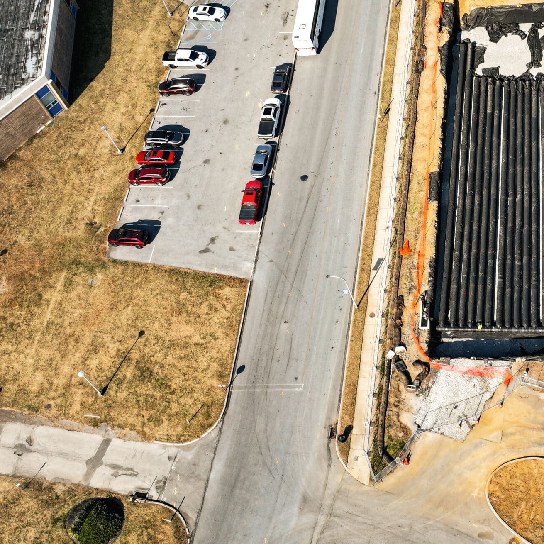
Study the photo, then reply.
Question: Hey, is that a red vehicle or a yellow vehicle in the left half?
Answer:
red vehicle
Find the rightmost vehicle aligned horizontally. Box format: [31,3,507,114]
[187,5,229,22]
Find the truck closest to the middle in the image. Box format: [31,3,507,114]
[237,179,265,225]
